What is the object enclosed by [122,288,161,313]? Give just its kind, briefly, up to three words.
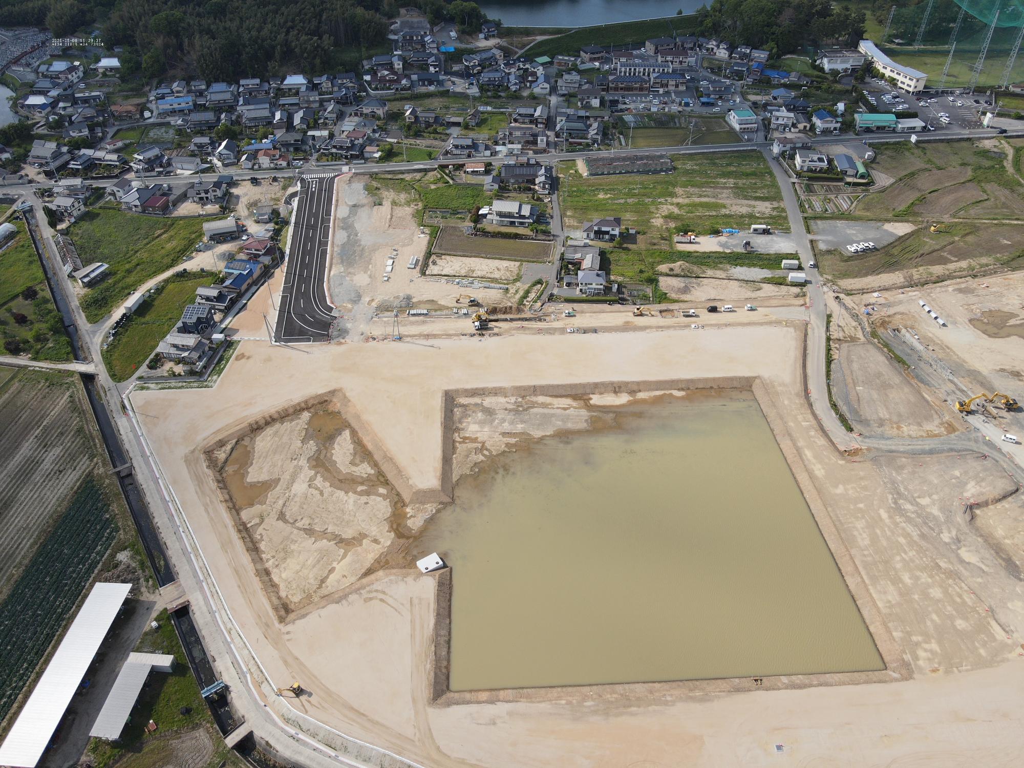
shipping container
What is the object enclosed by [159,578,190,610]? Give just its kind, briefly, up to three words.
bridge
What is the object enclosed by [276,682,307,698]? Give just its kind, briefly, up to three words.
work vehicle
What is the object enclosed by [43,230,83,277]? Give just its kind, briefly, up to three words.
shed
